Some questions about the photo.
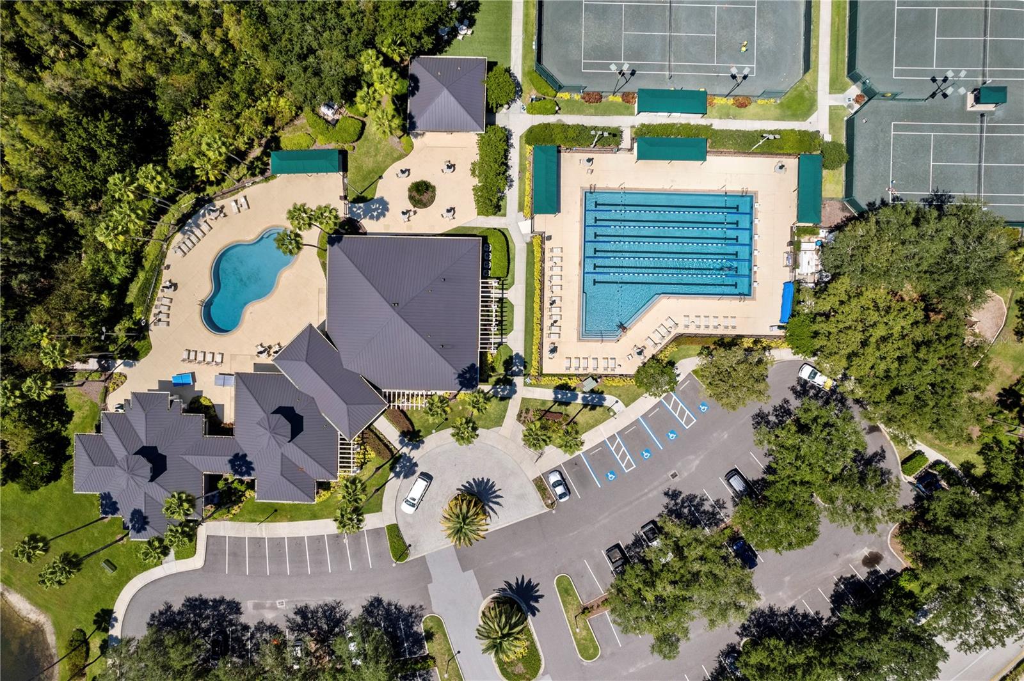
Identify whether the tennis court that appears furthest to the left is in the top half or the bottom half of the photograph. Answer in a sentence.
You can find the tennis court that appears furthest to the left in the top half.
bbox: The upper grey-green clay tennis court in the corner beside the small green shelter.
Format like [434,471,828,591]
[855,0,1024,109]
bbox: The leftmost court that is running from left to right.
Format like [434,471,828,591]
[536,0,805,99]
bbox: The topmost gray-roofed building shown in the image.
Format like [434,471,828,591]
[408,56,487,135]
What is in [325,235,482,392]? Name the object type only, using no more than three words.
building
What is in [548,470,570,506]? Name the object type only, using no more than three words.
car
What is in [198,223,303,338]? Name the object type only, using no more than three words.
swimming pool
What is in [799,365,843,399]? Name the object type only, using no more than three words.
truck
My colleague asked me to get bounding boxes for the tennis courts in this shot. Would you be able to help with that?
[851,96,1024,226]
[855,0,1024,109]
[536,0,805,99]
